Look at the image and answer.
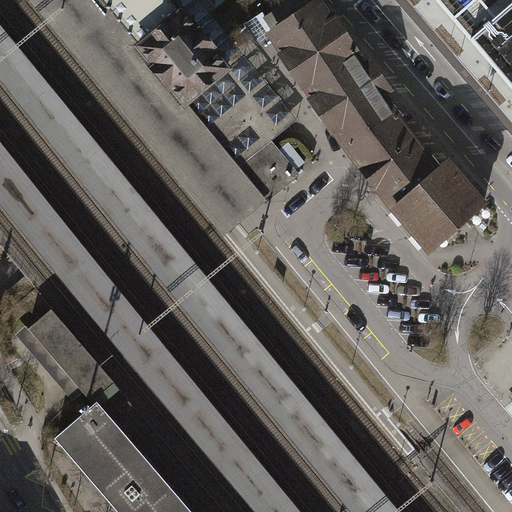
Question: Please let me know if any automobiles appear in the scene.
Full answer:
Yes, this view includes an automobile.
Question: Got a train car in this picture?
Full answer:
No, there is no train car in the image.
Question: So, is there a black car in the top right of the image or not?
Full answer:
Yes, a black car shows up in the top right of the image.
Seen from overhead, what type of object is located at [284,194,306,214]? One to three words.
car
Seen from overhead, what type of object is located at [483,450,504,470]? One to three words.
car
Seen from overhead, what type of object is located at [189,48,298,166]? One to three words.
building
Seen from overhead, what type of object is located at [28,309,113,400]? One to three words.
building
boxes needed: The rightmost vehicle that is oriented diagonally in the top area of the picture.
[482,131,501,152]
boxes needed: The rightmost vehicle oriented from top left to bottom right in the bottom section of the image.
[346,310,364,332]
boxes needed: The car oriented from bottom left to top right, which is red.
[454,416,474,434]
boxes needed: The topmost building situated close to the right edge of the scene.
[438,0,512,91]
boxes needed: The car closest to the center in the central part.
[290,242,310,264]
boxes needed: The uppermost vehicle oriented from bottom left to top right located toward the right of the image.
[309,173,330,192]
